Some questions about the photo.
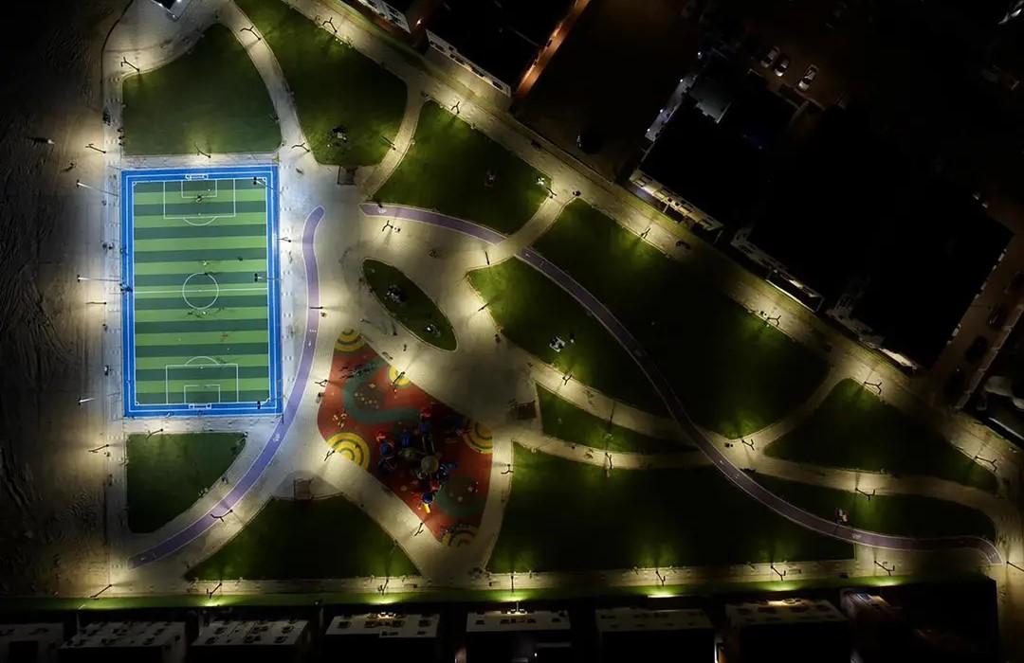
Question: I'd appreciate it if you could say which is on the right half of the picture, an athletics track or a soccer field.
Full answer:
The feature located on the right half of the picture is an athletics track.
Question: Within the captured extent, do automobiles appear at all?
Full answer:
Yes, I can see an automobile in this picture.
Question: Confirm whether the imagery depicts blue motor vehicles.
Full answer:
No, no blue motor vehicle is visible in the scene.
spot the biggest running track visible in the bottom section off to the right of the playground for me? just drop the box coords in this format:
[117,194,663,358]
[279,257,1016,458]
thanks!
[514,244,1003,567]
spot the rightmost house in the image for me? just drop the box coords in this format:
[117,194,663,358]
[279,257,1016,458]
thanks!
[970,375,1024,439]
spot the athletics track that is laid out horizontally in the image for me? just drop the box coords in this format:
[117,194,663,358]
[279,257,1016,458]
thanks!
[362,203,506,247]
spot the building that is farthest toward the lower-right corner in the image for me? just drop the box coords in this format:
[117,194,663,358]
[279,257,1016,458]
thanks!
[899,604,994,663]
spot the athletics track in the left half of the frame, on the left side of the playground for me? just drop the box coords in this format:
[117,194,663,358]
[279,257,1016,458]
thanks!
[127,203,328,571]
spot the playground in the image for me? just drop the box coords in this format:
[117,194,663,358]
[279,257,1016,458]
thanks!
[318,333,493,546]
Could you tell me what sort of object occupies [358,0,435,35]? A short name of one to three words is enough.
house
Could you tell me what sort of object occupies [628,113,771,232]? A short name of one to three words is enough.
house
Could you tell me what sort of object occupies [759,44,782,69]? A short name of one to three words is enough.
car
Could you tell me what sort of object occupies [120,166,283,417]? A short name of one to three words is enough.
soccer field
